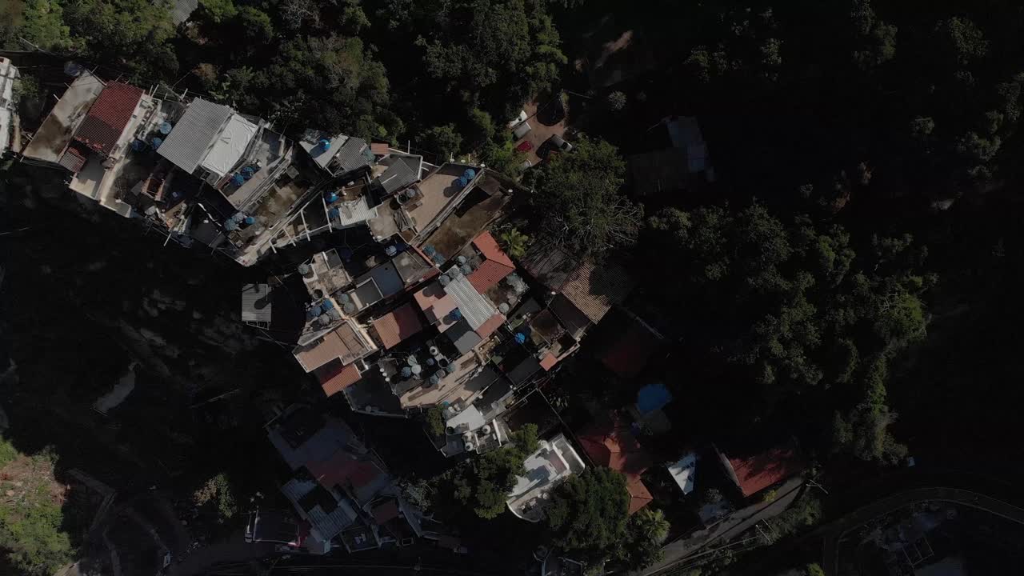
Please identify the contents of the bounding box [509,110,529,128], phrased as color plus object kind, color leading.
white car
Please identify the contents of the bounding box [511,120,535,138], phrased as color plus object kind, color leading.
gray vehicle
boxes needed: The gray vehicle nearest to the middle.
[517,158,536,172]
